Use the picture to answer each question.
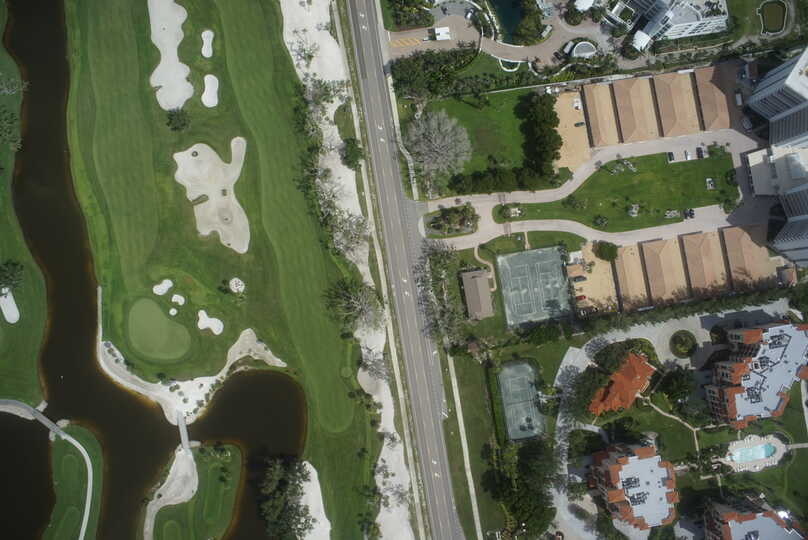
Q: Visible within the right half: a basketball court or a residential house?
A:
residential house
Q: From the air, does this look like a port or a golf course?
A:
golf course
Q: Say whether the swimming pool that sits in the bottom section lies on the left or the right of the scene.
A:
right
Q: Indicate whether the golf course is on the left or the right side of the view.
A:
left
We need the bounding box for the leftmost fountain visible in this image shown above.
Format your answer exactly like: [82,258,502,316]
[574,41,597,58]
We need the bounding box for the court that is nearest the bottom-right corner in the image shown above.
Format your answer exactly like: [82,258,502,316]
[498,361,548,441]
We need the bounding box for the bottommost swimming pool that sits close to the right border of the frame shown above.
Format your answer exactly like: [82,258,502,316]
[717,435,788,472]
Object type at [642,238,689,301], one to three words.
building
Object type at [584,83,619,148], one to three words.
building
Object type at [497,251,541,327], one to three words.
tennis court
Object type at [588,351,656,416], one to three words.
house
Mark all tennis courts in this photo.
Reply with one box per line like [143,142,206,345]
[498,361,548,441]
[529,246,573,319]
[497,251,541,327]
